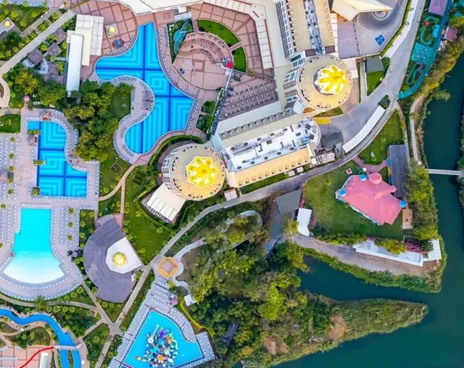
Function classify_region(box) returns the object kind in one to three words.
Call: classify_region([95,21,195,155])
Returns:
swimming pool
